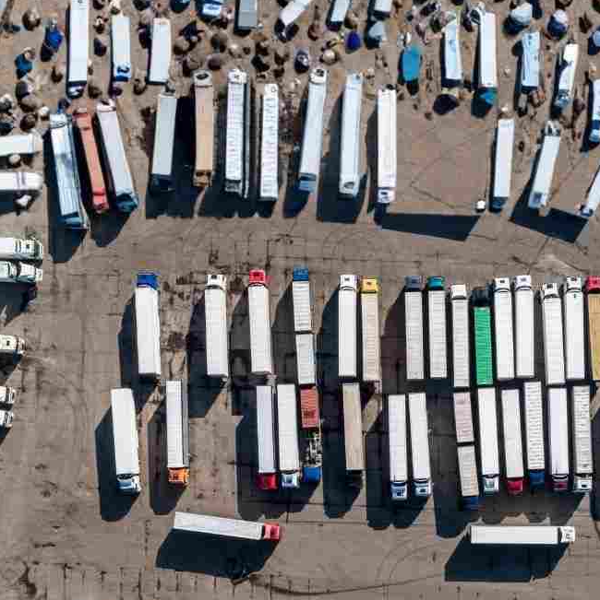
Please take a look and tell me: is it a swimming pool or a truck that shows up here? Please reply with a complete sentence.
Visible in the photo is a truck.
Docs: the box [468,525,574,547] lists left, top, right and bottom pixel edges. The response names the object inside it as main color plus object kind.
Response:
white truck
